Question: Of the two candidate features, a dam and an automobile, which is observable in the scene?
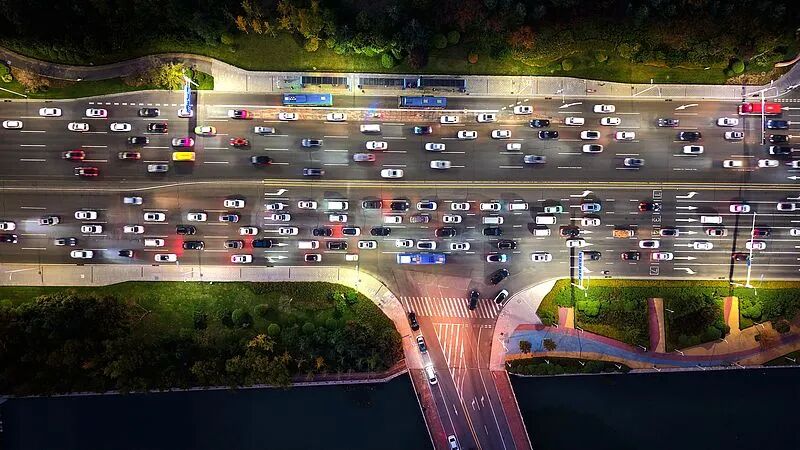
automobile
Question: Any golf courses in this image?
No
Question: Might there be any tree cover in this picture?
Yes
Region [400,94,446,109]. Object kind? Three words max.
vehicle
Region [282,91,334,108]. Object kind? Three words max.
vehicle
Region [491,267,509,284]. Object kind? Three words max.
car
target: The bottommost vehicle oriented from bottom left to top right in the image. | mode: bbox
[492,288,509,307]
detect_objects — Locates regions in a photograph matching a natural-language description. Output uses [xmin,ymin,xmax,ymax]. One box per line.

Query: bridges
[409,370,534,450]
